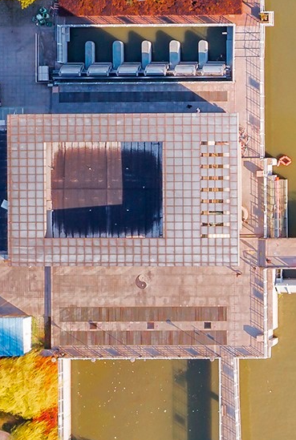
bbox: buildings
[0,316,32,356]
[7,111,241,266]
